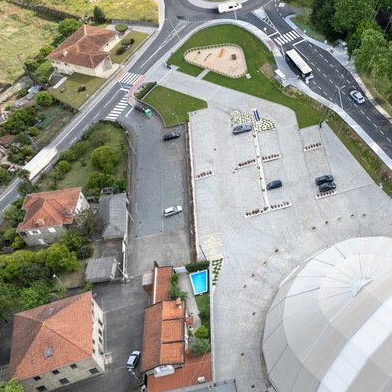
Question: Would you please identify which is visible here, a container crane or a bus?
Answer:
bus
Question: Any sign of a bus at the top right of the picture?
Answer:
Yes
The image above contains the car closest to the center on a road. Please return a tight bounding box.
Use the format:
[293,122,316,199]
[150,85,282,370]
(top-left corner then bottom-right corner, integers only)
[159,202,185,217]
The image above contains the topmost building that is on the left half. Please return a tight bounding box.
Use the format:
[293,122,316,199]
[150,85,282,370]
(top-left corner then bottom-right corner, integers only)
[46,25,118,76]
